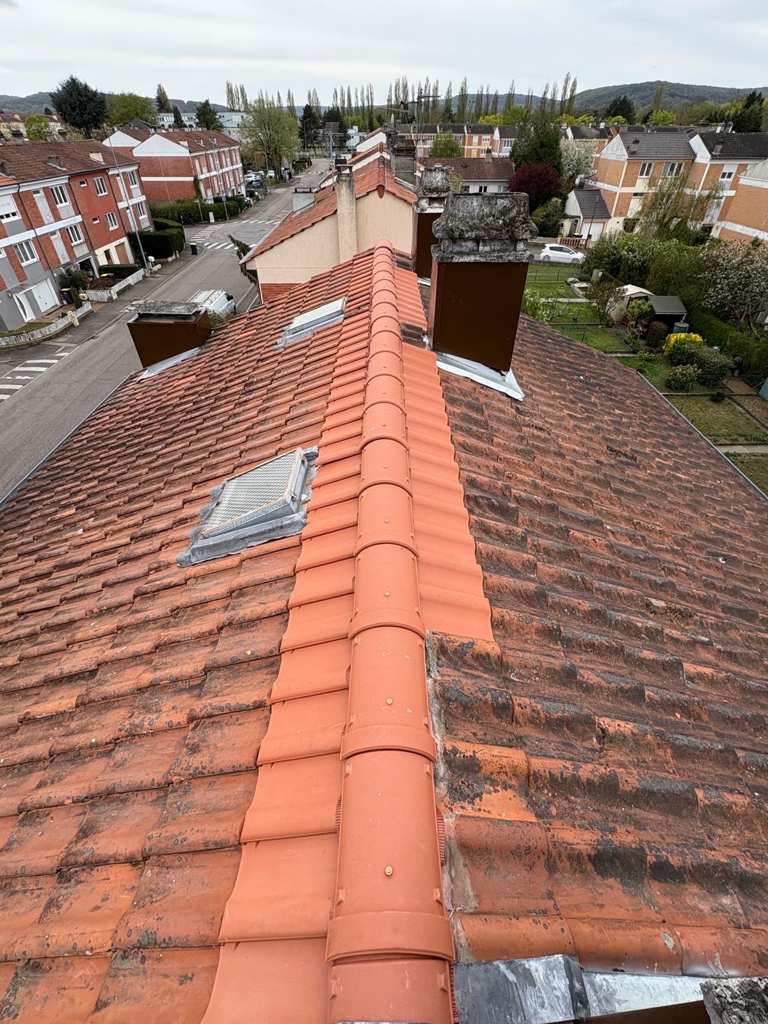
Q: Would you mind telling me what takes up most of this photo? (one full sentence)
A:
For the most part, this view shows buildings.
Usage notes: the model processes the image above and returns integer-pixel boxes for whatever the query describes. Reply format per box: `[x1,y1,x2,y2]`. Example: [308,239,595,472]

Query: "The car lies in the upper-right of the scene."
[537,241,581,257]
